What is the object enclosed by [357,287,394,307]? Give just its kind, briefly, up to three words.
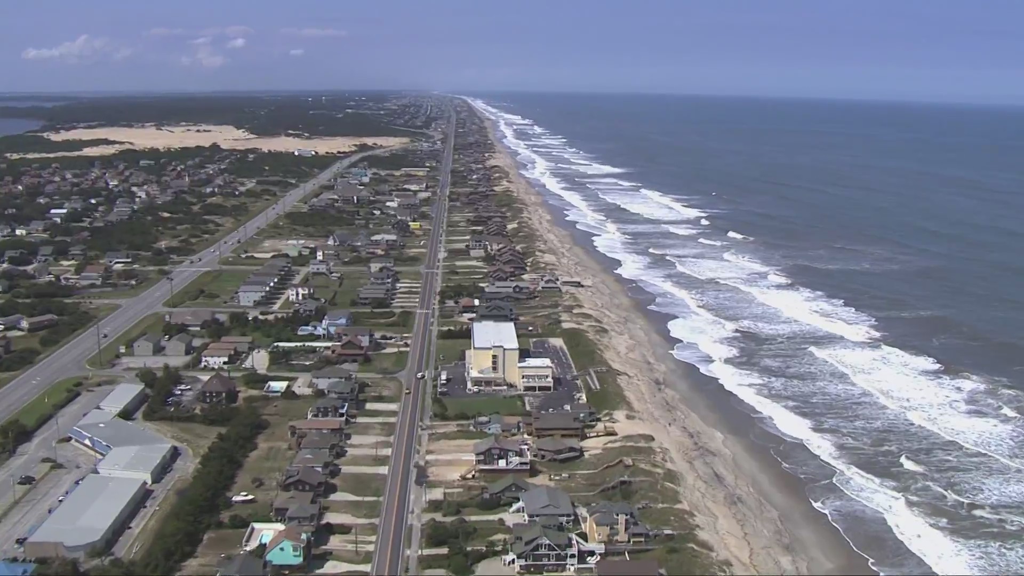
house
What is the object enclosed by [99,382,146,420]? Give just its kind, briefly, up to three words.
building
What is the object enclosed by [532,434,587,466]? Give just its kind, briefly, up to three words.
house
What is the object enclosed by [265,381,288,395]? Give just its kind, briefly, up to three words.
swimming pool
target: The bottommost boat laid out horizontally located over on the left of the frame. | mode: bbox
[229,486,259,501]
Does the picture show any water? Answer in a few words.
Yes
